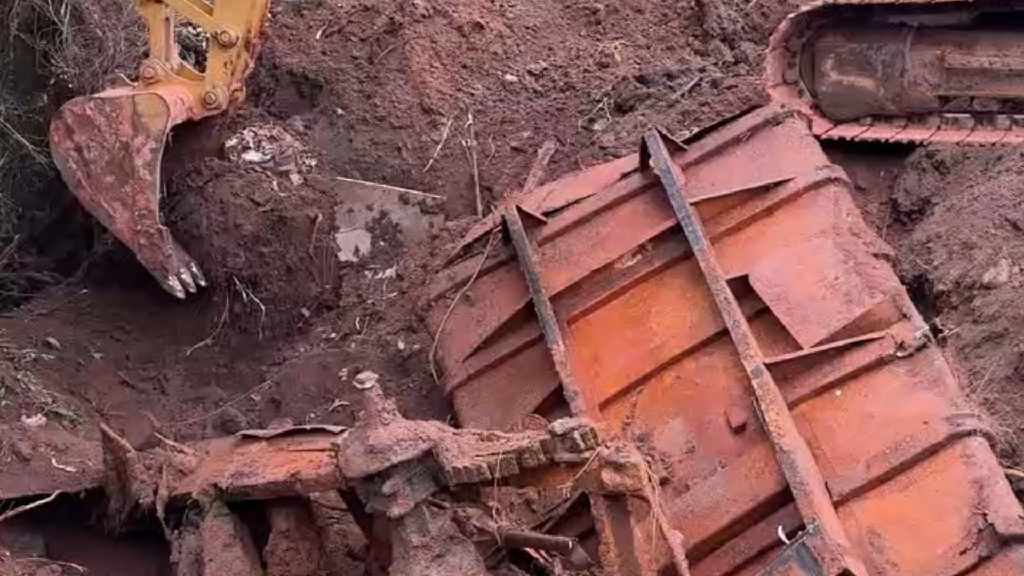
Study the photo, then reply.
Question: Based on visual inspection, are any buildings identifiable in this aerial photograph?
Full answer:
No, no building can be seen from above.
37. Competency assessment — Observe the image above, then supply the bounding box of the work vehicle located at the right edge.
[752,0,1024,150]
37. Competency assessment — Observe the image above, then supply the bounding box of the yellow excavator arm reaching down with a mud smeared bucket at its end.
[48,0,290,298]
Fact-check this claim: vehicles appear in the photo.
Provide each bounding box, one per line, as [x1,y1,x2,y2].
[48,0,290,298]
[752,0,1024,150]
